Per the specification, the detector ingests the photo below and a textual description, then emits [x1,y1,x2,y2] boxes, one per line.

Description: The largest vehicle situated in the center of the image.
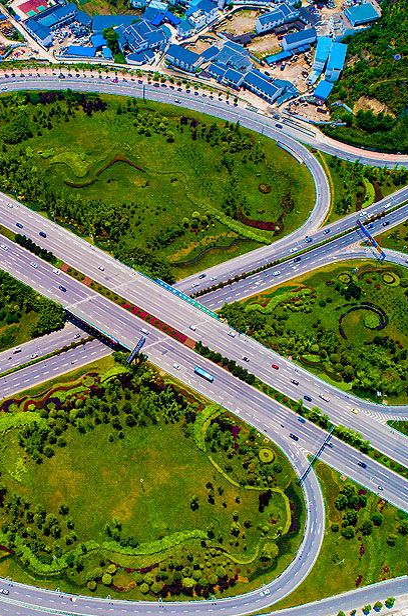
[194,365,216,381]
